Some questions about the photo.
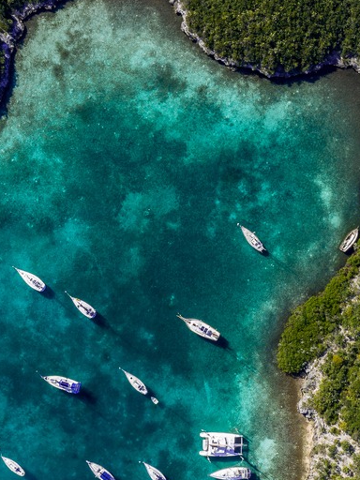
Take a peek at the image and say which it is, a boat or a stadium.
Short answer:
boat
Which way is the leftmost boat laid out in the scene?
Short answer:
on a diagonal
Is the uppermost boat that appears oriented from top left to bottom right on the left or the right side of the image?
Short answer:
right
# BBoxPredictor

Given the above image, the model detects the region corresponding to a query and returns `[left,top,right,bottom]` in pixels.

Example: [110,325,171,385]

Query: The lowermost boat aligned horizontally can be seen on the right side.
[210,467,253,480]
